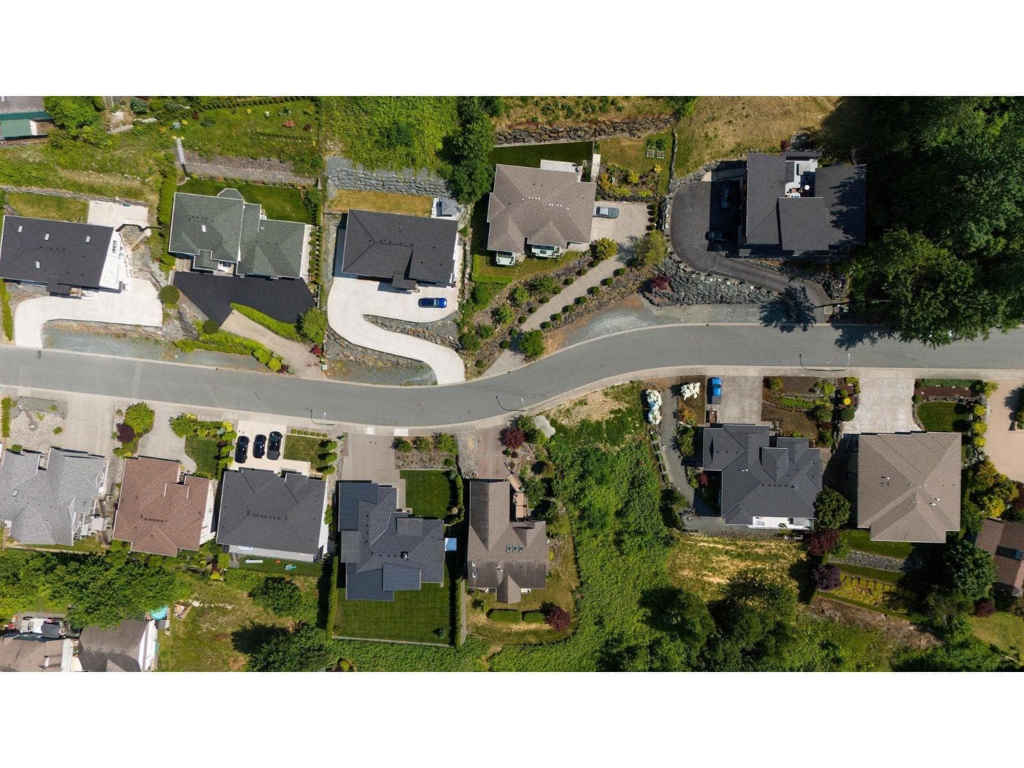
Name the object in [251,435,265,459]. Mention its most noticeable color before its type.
black car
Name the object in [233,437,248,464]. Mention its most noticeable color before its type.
black car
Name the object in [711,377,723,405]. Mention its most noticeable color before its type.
blue vehicle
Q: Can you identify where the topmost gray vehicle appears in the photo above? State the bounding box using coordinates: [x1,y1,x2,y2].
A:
[594,205,619,218]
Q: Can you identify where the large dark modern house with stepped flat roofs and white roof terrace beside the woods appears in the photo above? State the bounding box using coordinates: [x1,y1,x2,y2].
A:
[732,151,867,257]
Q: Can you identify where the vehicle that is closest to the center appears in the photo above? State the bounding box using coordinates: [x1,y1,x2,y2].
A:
[419,295,446,308]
